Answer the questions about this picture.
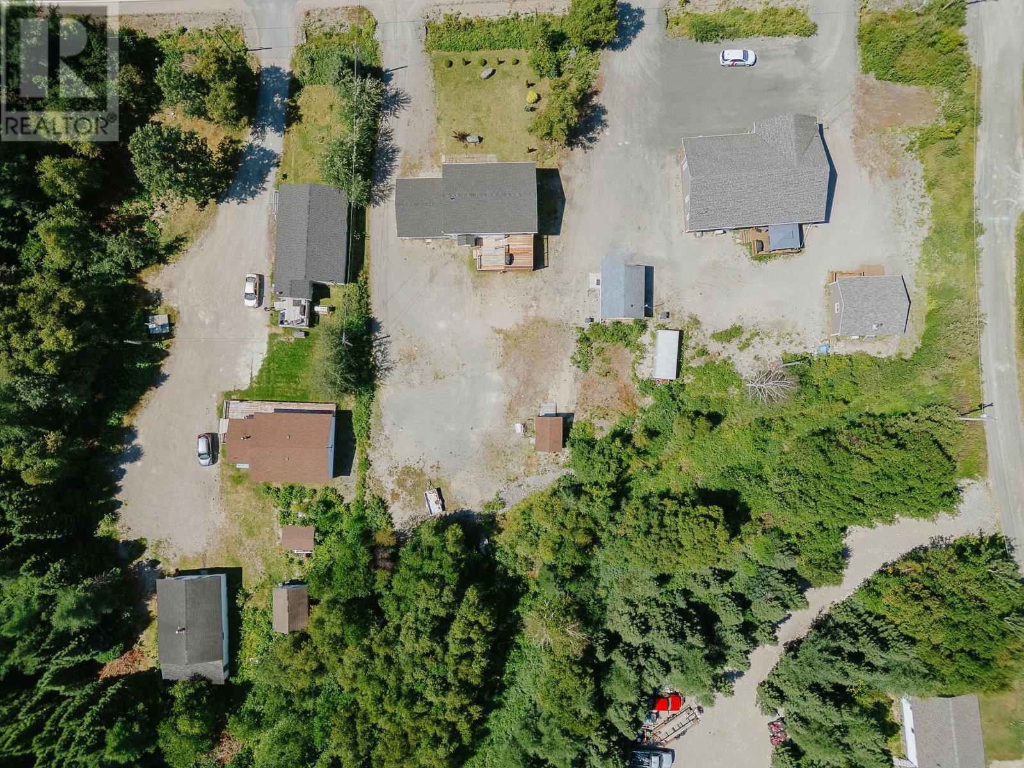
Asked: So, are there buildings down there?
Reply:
Yes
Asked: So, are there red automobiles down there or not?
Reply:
Yes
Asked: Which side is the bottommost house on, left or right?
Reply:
right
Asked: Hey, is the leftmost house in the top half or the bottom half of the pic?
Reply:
bottom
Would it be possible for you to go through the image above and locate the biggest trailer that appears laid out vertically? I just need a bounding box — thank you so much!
[654,325,681,379]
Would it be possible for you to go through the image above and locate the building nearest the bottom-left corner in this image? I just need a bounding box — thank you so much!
[157,567,233,685]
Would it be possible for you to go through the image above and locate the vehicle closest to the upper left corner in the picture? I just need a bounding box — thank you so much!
[241,273,259,309]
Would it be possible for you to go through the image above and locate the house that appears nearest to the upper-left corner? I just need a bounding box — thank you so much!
[269,183,351,301]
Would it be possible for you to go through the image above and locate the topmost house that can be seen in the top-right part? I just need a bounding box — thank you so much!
[675,107,832,234]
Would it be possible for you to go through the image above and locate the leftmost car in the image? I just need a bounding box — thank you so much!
[194,434,212,466]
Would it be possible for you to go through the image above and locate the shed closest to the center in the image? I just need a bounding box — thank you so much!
[535,416,563,453]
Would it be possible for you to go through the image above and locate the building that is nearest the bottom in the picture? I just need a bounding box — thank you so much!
[891,687,985,768]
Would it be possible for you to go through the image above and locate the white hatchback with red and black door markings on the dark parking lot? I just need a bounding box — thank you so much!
[720,47,756,66]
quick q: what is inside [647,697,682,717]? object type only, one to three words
car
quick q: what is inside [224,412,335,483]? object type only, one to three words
house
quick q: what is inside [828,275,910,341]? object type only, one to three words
building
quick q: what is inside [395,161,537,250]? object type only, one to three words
house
